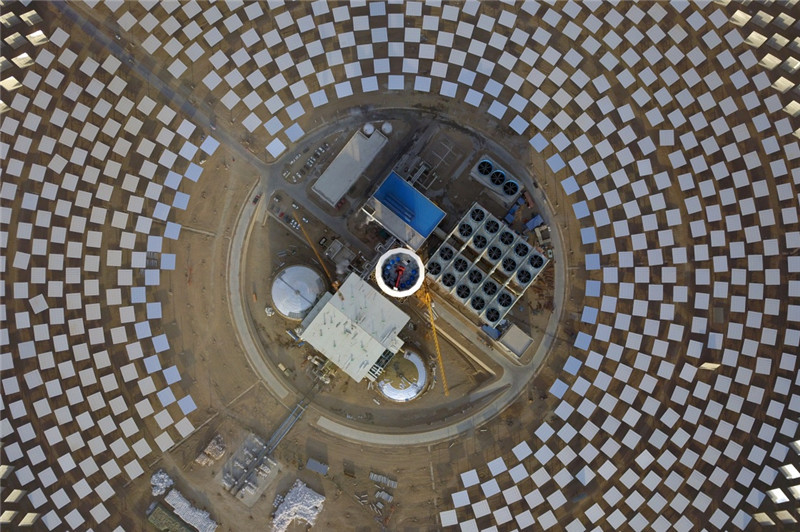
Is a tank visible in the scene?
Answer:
Yes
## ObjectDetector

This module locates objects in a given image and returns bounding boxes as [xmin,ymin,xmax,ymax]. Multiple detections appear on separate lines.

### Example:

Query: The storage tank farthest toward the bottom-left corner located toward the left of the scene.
[272,262,331,321]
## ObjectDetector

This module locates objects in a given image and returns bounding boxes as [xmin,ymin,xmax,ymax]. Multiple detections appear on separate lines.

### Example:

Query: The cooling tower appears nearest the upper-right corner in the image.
[465,153,526,217]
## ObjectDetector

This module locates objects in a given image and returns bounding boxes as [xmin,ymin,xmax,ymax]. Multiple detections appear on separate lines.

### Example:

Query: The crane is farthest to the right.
[415,263,448,397]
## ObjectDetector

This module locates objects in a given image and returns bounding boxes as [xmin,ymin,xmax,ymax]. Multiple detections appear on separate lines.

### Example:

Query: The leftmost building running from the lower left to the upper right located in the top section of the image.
[312,129,389,210]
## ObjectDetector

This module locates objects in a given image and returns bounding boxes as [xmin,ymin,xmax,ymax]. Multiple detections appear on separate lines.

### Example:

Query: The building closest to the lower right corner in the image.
[498,323,533,357]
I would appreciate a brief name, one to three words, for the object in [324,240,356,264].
building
